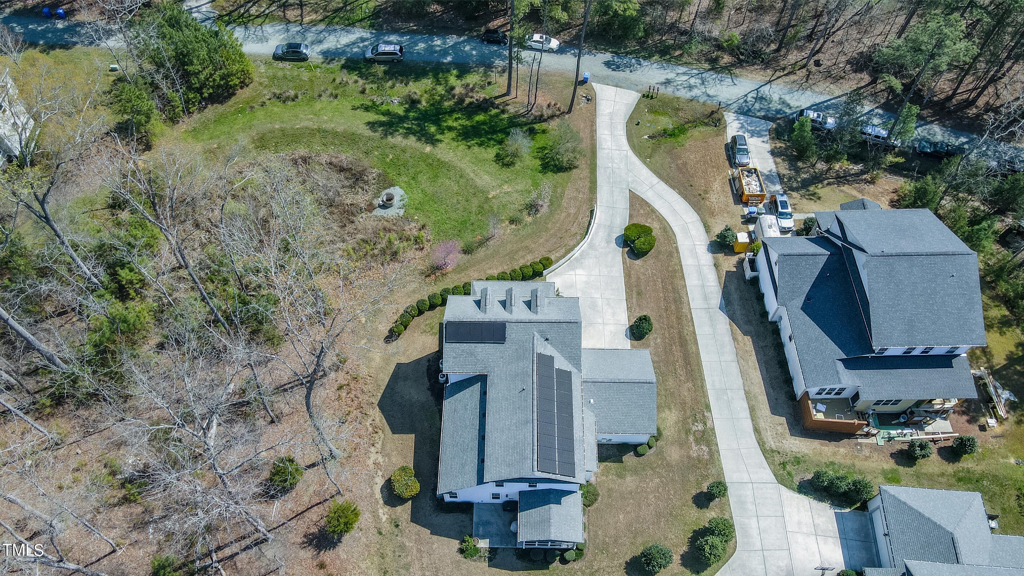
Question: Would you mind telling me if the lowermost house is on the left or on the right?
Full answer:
The lowermost house sits on the right side.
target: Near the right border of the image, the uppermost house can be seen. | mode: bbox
[754,199,987,432]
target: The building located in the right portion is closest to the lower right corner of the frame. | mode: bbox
[852,485,1024,576]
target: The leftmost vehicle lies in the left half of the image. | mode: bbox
[272,42,311,61]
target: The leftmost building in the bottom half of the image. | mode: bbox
[436,278,657,549]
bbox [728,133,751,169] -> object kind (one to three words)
car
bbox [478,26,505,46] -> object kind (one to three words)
car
